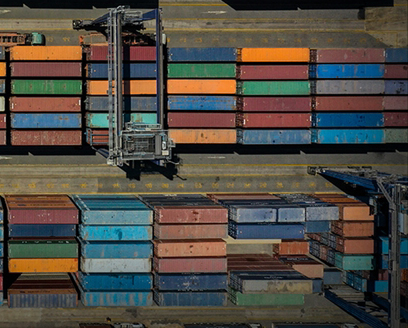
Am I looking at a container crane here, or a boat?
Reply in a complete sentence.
Visible in the photo is a container crane.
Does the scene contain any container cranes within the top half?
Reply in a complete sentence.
Yes, the scene does show a container crane within the top half.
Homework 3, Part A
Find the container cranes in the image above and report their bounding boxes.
[303,165,408,328]
[71,6,177,171]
